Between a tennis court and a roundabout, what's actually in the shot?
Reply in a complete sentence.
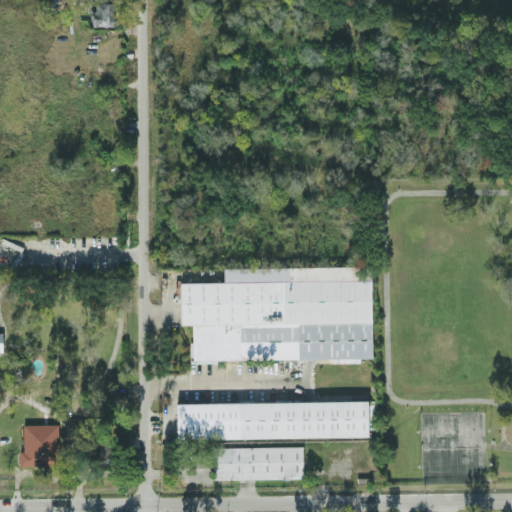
The one in the frame is a tennis court.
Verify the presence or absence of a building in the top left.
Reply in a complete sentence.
Yes, a building appears in the top left.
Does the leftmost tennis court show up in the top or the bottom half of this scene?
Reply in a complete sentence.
Seen from above, the leftmost tennis court lies in the bottom half of the view.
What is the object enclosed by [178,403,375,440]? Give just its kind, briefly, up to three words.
shed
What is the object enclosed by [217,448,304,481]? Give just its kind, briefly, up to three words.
shed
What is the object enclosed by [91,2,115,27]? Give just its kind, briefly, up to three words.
house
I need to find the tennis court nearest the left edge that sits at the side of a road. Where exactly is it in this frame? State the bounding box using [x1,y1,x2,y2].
[422,412,487,485]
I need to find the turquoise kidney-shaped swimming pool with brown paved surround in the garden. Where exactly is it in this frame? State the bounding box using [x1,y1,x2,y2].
[30,354,48,380]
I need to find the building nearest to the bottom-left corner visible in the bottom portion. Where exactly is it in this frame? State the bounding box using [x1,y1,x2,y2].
[18,426,60,468]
